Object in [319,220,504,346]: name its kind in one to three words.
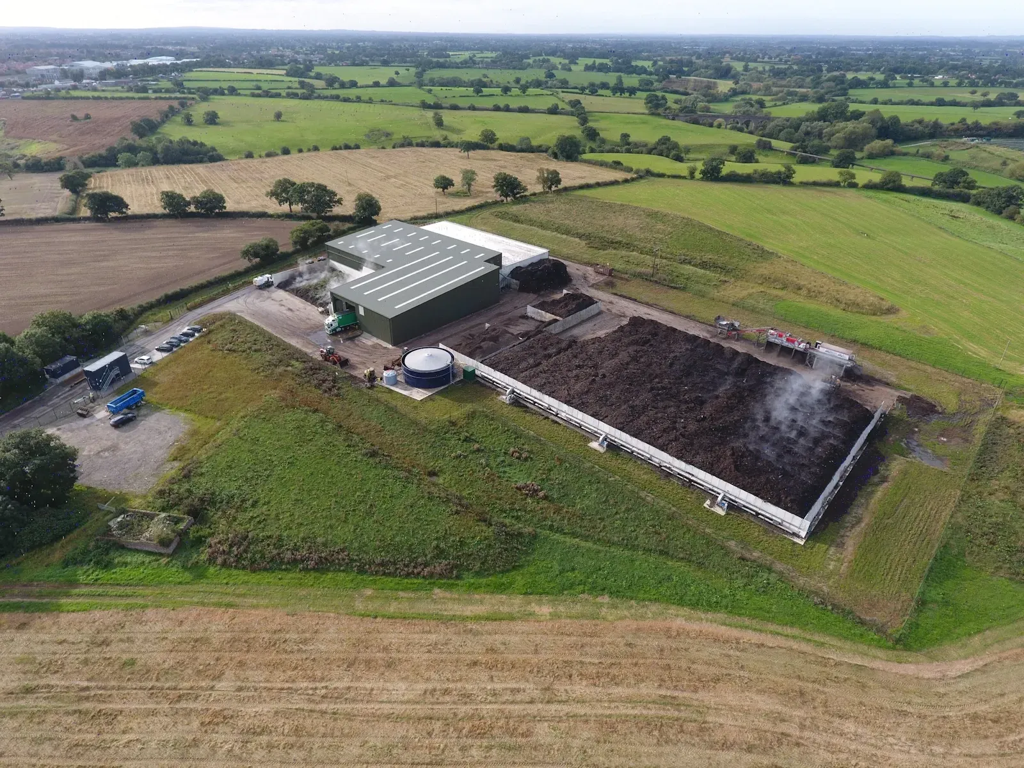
shed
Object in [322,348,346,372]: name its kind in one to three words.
work vehicle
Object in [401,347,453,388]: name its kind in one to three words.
storage tank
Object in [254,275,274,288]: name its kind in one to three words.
vehicle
